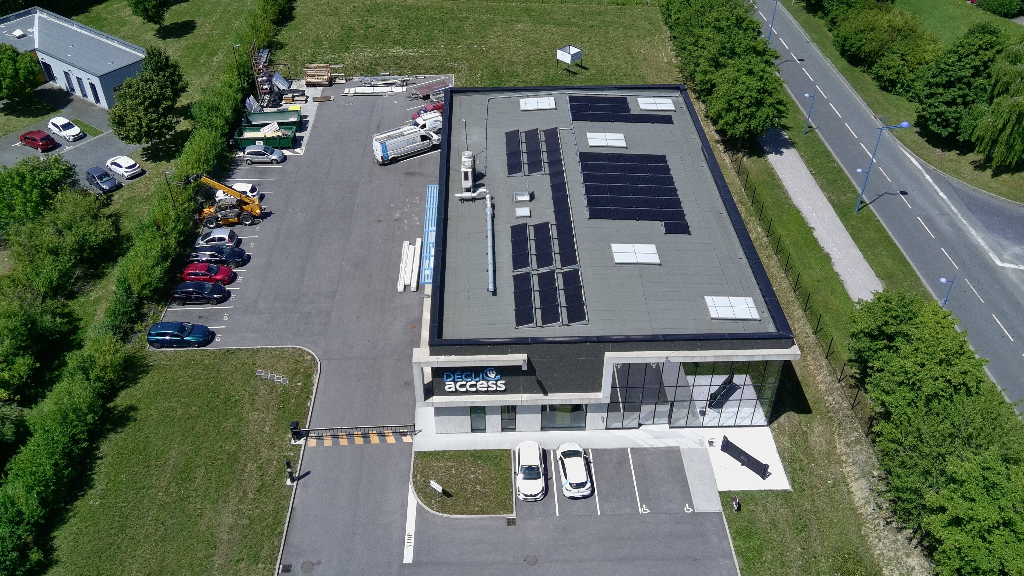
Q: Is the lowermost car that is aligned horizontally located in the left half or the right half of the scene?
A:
left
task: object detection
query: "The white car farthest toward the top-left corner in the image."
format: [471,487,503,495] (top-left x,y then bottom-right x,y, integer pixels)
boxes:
[48,114,85,139]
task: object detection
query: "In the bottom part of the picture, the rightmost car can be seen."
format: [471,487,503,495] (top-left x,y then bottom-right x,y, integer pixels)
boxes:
[557,443,592,499]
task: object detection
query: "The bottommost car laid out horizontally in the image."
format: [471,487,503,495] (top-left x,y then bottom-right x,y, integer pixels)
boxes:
[149,319,214,348]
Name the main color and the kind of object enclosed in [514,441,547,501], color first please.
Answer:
white car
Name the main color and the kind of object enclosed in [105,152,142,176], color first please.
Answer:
white car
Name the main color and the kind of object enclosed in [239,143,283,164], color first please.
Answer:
gray car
